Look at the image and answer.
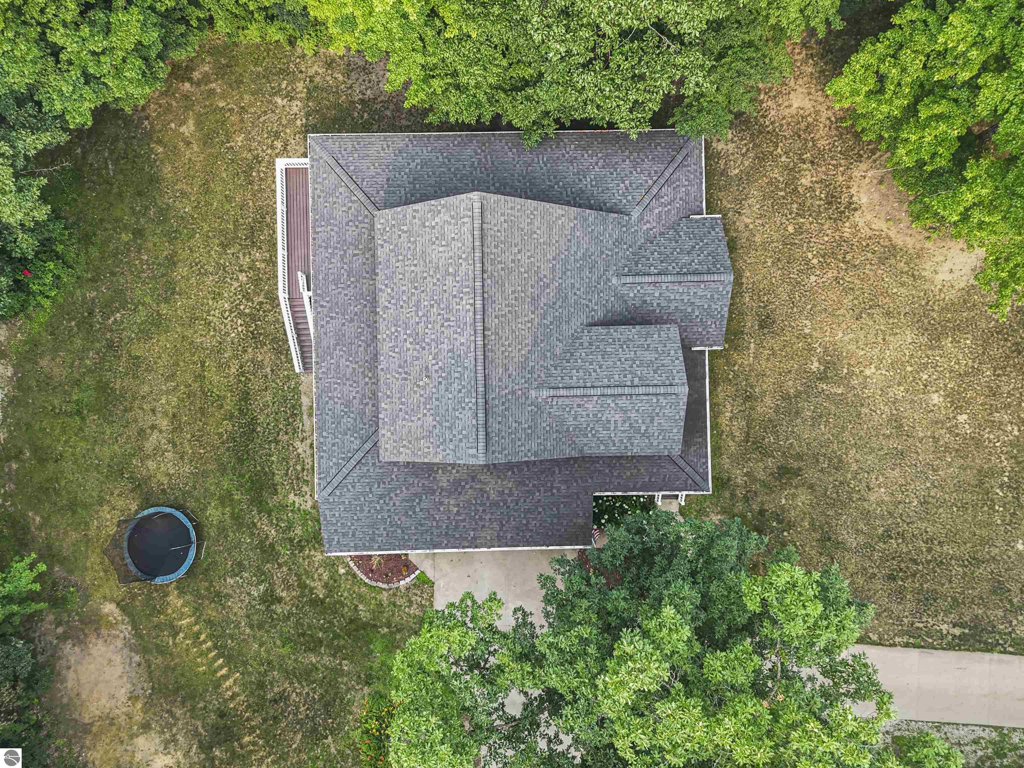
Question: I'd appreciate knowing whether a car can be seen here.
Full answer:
No, no car can be seen from above.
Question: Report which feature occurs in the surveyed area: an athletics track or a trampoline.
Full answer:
I can see a trampoline in this picture.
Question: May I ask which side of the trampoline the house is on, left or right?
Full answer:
Relative to the trampoline, the house lies to the right.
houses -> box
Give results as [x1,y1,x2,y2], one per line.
[308,125,734,556]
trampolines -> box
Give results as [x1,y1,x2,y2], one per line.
[99,506,205,591]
